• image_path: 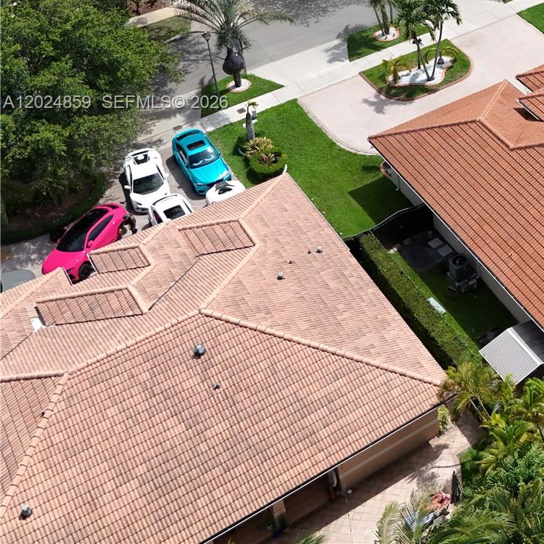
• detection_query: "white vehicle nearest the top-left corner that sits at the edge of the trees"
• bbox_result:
[125,148,172,212]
